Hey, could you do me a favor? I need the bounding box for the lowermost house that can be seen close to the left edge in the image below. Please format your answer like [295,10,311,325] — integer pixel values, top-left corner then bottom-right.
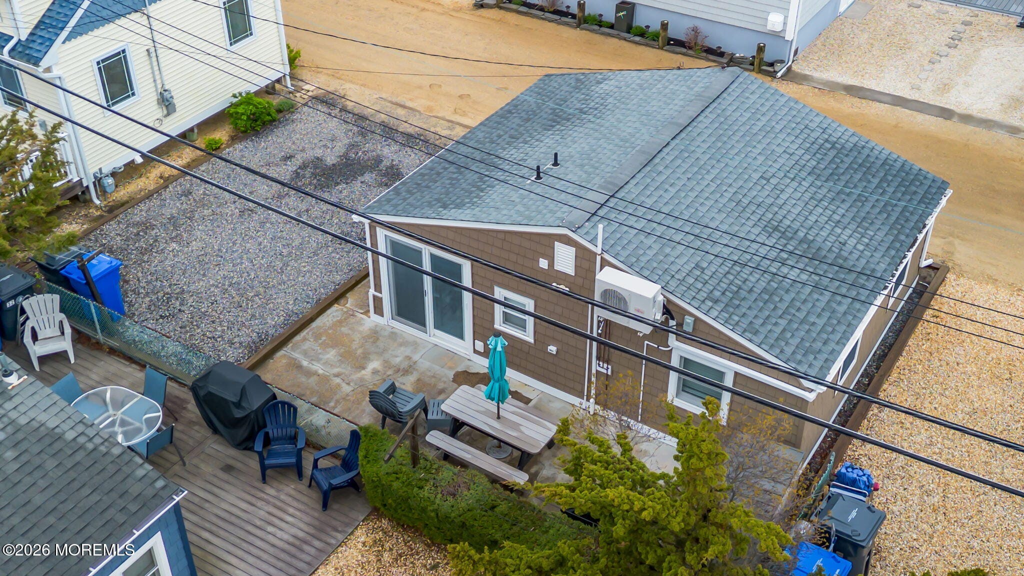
[0,332,195,576]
